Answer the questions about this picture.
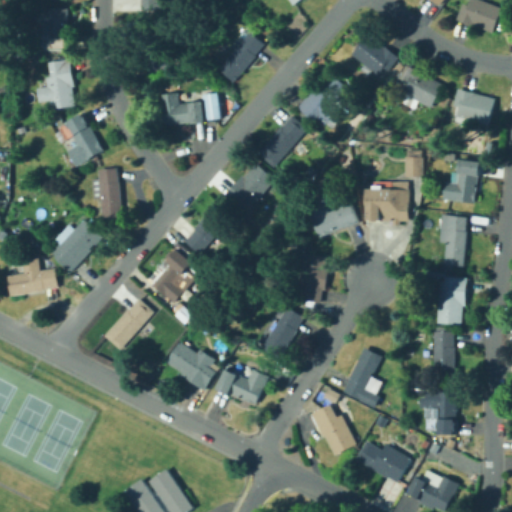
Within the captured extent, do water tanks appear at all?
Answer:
No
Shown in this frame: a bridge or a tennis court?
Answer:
tennis court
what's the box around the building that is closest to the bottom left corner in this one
[130,478,168,512]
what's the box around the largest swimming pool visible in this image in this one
[212,339,228,354]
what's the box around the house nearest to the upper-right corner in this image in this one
[458,0,500,32]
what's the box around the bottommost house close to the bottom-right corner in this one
[408,472,458,512]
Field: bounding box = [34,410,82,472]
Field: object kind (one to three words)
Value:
tennis court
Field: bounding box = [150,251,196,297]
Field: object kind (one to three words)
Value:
house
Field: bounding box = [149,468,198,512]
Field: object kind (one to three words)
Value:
building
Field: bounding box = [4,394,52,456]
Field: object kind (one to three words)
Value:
tennis court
